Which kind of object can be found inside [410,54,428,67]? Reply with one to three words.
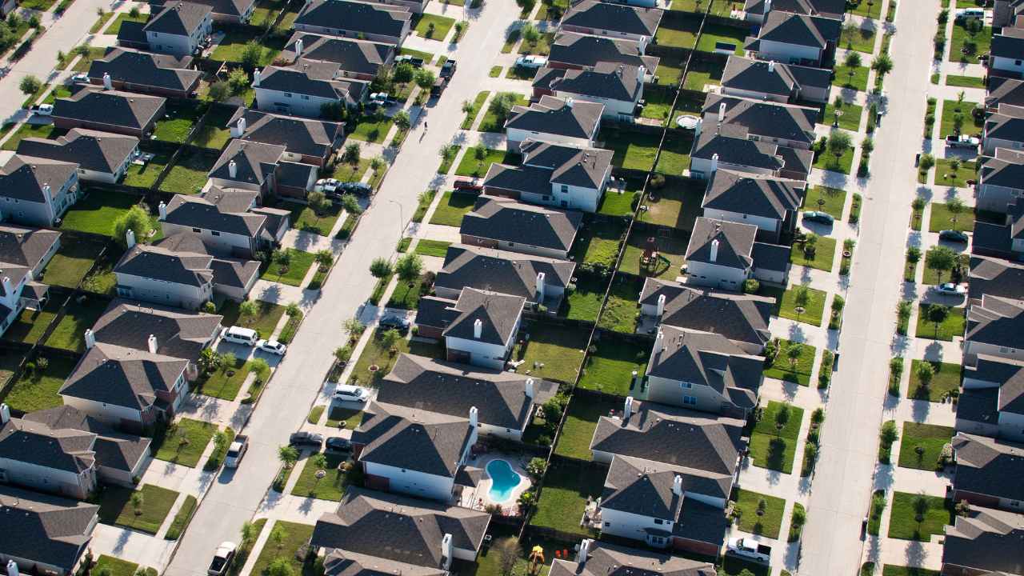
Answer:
vehicle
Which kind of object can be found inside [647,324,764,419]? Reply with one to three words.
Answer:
house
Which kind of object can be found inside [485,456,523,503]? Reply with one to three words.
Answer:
swimming pool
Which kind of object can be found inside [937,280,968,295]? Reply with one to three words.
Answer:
car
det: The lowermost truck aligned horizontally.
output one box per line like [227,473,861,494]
[728,537,773,558]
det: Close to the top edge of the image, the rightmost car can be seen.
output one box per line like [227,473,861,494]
[956,5,984,19]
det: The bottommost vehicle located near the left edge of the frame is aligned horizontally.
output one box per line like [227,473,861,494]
[26,100,55,115]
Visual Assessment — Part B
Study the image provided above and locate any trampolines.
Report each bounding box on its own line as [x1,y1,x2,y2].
[676,114,699,131]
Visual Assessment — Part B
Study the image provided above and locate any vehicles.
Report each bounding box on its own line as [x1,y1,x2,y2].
[368,92,398,106]
[220,323,260,344]
[410,54,428,67]
[431,77,448,97]
[801,207,831,221]
[946,133,980,148]
[441,59,459,79]
[26,100,55,115]
[254,335,288,350]
[941,226,969,242]
[205,540,235,576]
[379,313,412,329]
[937,280,968,295]
[454,175,484,192]
[223,430,250,463]
[317,188,350,203]
[728,537,773,558]
[344,183,374,198]
[334,381,371,401]
[956,5,984,19]
[324,433,356,450]
[516,53,548,67]
[291,426,327,444]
